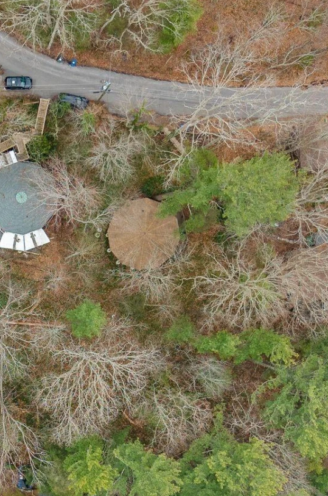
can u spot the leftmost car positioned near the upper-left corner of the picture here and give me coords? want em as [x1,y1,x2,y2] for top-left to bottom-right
[3,74,33,89]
